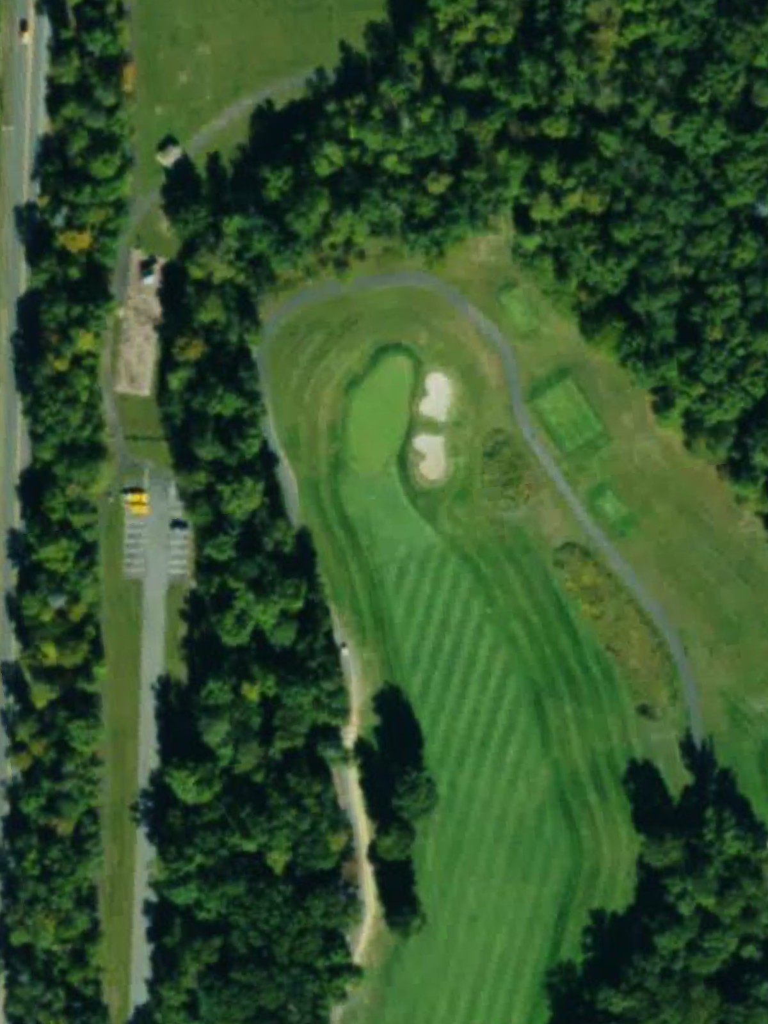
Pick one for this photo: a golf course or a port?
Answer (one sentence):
What you see here is a golf course.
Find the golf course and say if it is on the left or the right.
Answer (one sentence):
It is on the right.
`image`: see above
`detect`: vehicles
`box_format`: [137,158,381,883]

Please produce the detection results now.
[342,647,347,656]
[170,522,188,530]
[124,493,148,501]
[126,504,150,513]
[21,21,29,43]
